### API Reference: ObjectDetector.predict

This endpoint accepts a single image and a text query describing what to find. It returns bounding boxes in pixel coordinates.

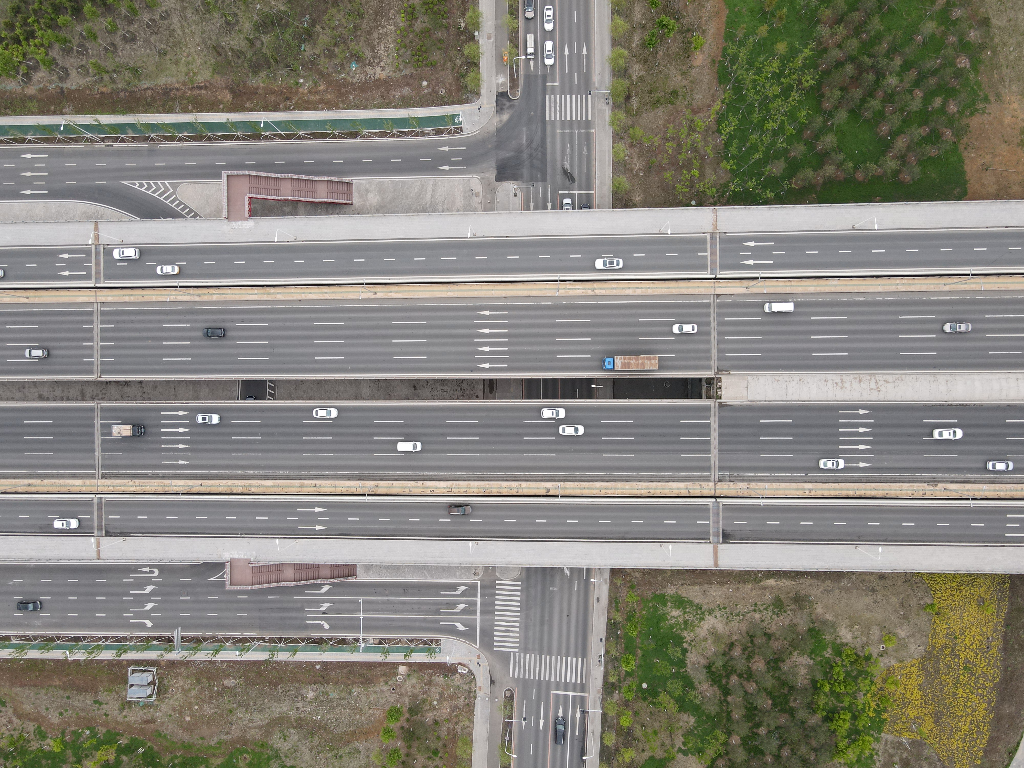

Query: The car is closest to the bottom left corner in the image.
[17,600,43,612]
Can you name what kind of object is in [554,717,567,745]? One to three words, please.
vehicle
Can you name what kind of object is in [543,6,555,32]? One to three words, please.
vehicle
